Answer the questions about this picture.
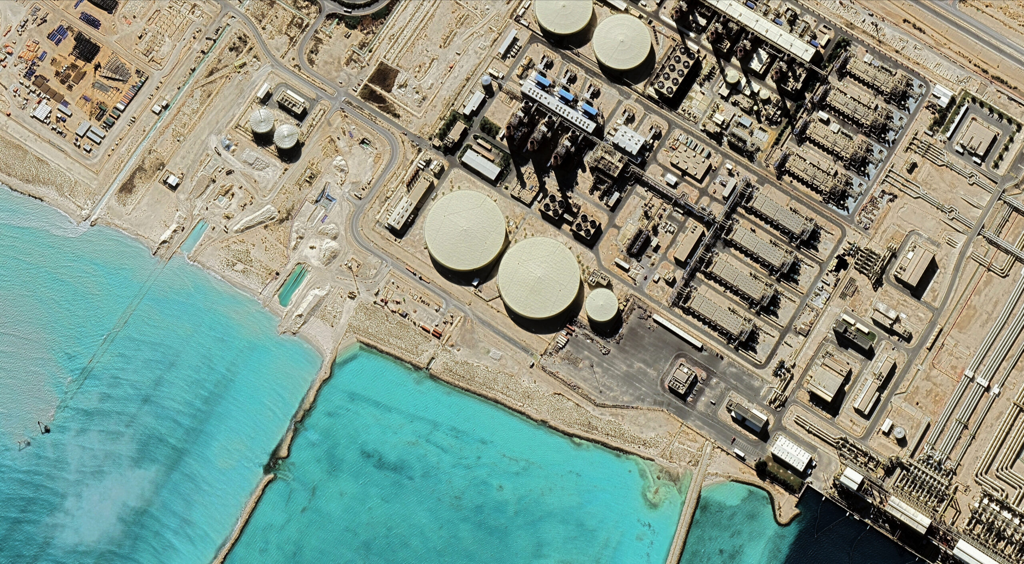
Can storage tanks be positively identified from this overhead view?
Yes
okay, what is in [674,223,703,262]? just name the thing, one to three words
building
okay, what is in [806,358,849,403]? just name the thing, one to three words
building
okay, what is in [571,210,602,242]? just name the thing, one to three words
cooling tower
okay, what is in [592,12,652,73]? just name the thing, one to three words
storage tank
